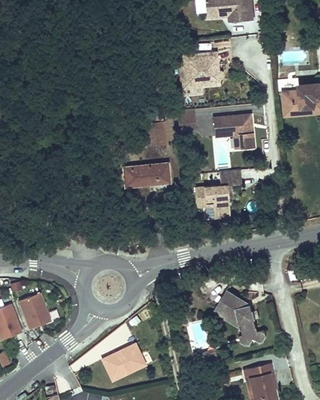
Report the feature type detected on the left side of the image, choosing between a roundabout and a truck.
roundabout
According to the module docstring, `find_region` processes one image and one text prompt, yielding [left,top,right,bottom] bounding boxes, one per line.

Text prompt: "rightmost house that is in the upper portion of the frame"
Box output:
[282,82,320,118]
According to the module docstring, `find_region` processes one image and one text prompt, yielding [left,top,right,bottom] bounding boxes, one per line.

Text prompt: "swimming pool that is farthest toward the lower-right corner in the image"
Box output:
[188,320,208,350]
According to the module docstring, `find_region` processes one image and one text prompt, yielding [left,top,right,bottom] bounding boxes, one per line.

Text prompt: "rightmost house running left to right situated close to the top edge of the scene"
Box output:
[208,0,256,23]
